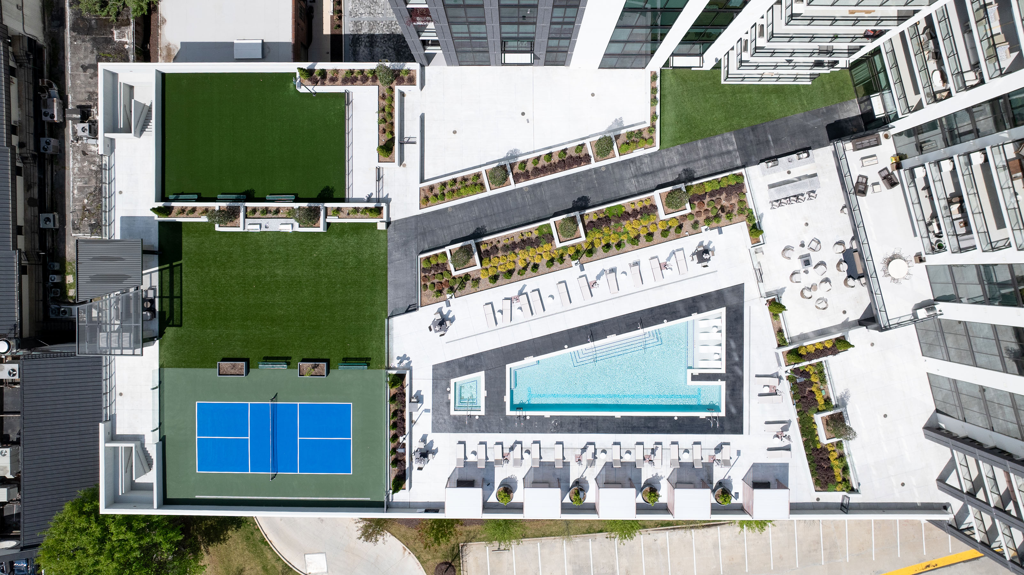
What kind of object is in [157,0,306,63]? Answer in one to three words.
building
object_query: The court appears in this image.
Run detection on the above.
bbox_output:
[159,368,387,506]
